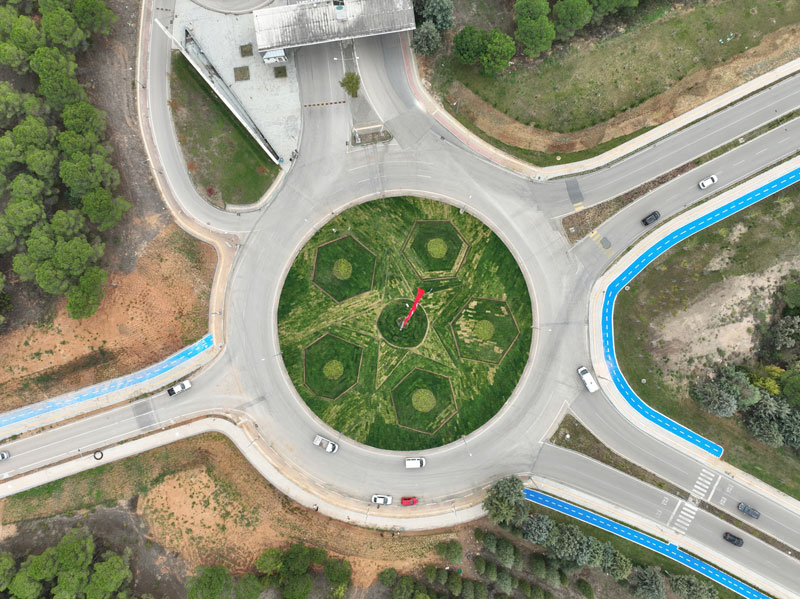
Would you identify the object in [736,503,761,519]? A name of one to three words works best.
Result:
vehicle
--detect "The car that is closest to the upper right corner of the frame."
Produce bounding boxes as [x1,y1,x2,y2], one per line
[697,175,718,190]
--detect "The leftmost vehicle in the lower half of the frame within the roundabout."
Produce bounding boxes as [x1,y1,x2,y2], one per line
[312,433,339,452]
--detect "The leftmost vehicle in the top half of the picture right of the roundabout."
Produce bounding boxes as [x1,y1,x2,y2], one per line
[640,210,660,226]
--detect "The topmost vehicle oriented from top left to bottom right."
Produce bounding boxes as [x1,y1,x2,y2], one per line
[577,366,599,393]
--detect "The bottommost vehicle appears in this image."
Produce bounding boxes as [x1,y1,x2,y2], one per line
[722,530,743,545]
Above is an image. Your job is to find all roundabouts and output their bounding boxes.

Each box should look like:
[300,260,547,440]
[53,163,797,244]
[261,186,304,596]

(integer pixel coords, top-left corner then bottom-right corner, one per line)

[221,137,589,506]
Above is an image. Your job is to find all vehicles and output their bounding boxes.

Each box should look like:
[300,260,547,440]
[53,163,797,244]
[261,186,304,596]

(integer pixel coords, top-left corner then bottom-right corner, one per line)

[405,457,425,468]
[640,210,660,226]
[577,366,599,393]
[371,494,392,503]
[401,495,418,505]
[722,530,743,545]
[166,378,192,396]
[736,503,761,519]
[312,433,339,452]
[697,175,718,190]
